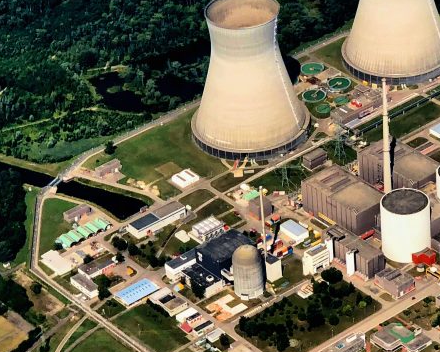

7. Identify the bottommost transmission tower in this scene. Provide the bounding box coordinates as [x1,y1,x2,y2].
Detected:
[275,156,295,190]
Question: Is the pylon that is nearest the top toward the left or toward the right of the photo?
right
